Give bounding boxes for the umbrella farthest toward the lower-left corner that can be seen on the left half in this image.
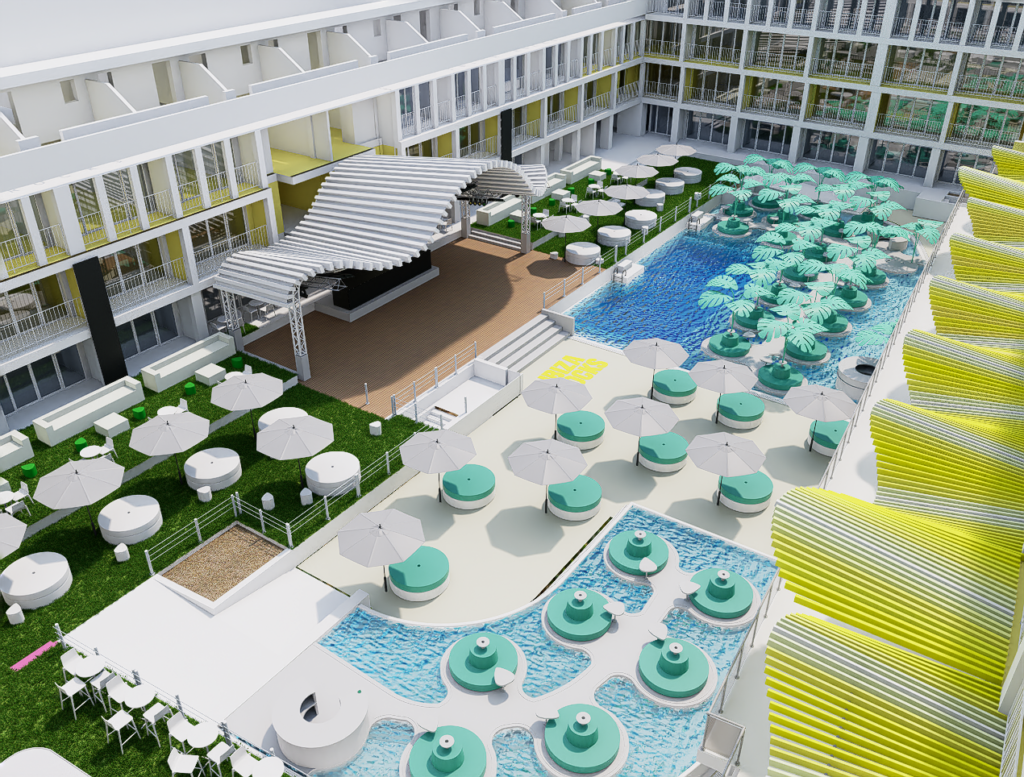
[0,516,24,561]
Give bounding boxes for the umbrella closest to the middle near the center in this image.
[521,376,593,440]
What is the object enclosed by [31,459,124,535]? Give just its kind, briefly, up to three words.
umbrella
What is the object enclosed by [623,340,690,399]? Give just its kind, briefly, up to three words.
umbrella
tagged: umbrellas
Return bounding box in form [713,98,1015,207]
[685,435,766,505]
[129,412,209,483]
[573,201,621,245]
[635,153,677,170]
[603,185,648,226]
[337,512,423,592]
[541,217,592,263]
[211,372,282,438]
[508,441,588,513]
[613,165,657,186]
[0,516,24,561]
[655,143,696,159]
[623,340,690,399]
[31,459,124,535]
[604,399,679,466]
[256,416,334,486]
[521,376,593,440]
[783,387,859,452]
[688,363,759,424]
[399,432,477,503]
